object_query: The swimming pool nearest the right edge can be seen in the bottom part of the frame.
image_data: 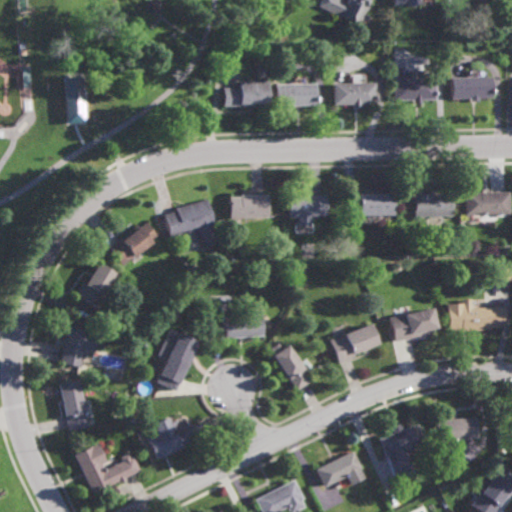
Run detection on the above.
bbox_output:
[136,382,152,396]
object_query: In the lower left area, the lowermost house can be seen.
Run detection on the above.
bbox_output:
[75,446,140,492]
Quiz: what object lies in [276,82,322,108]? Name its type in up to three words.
house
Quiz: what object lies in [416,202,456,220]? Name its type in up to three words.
house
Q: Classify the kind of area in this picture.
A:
residential area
